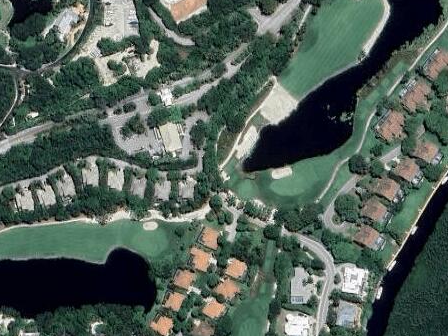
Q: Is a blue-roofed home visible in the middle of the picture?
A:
No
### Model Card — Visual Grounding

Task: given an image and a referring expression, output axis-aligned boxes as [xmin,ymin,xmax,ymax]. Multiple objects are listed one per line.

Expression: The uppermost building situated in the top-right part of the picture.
[424,50,448,82]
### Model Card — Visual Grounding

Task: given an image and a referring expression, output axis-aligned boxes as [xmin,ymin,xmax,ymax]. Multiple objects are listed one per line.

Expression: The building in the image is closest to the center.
[179,176,196,200]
